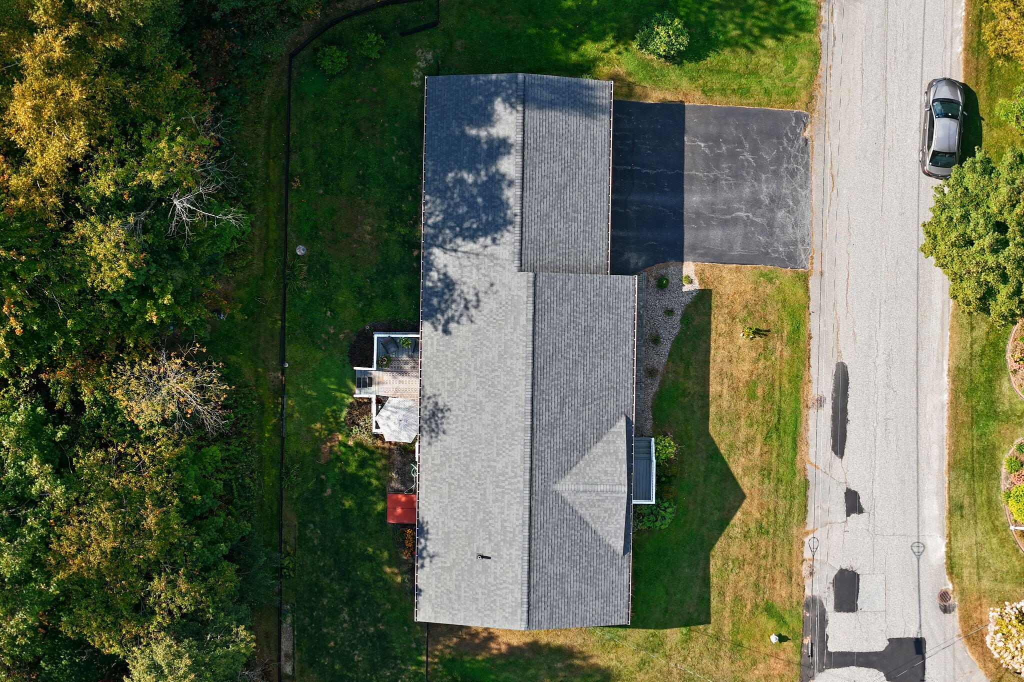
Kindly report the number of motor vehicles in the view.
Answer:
one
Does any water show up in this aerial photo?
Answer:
No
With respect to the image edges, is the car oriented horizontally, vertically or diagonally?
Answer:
vertically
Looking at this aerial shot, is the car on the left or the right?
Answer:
right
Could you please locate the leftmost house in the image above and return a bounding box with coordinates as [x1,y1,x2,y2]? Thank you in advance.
[415,72,636,631]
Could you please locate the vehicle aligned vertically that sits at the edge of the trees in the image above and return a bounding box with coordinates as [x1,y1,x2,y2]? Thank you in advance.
[922,77,971,179]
